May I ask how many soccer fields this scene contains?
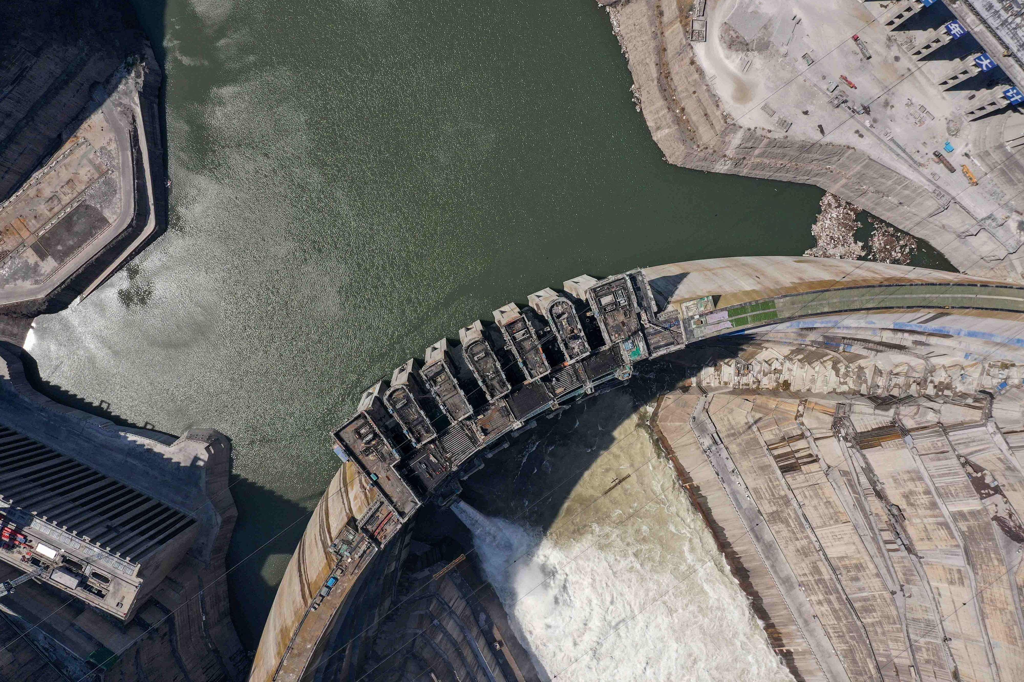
none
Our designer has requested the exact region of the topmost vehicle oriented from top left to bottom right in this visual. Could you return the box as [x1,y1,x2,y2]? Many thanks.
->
[853,33,874,60]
